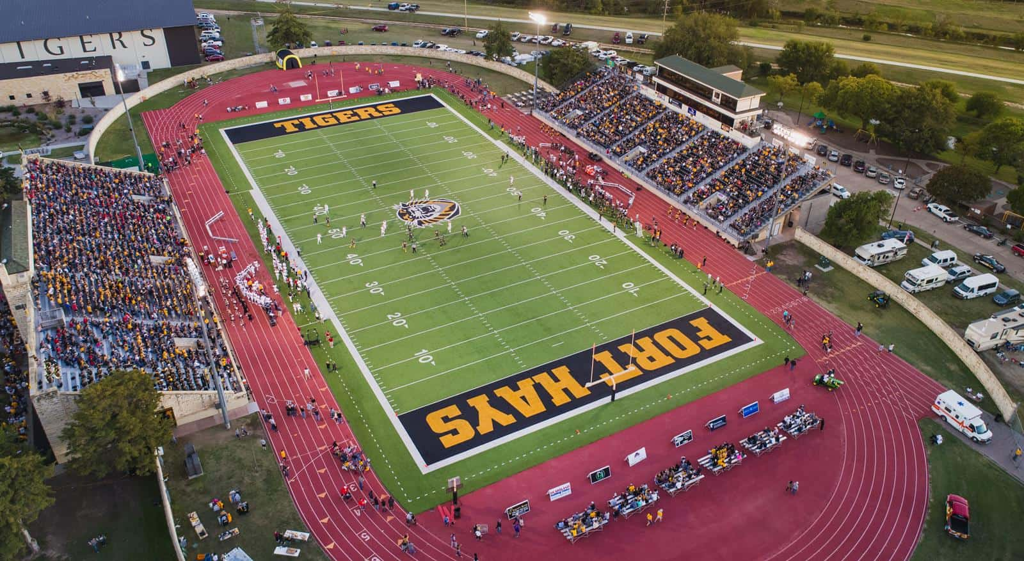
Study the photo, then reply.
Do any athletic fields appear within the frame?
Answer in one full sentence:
Yes, this view includes an athletic field.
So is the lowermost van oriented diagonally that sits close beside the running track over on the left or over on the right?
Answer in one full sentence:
The lowermost van oriented diagonally that sits close beside the running track is on the right side of the image.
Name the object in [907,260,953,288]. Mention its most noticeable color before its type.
white camper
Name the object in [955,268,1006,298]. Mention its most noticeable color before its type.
white vehicle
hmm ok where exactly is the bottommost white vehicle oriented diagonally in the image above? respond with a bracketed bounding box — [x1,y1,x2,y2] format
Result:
[935,385,996,439]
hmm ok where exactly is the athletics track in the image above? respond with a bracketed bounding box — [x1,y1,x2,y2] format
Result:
[144,61,942,561]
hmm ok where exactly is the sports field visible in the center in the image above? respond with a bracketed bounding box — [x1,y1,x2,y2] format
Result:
[233,107,709,416]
